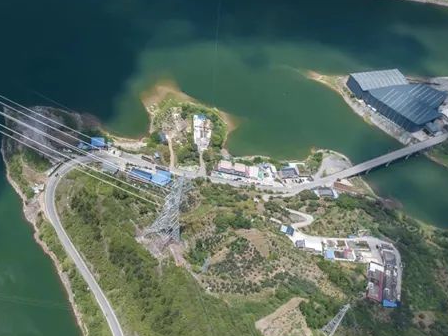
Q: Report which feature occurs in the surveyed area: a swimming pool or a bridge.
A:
bridge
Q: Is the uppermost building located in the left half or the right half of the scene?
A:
right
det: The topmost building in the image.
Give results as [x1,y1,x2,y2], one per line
[344,69,407,101]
